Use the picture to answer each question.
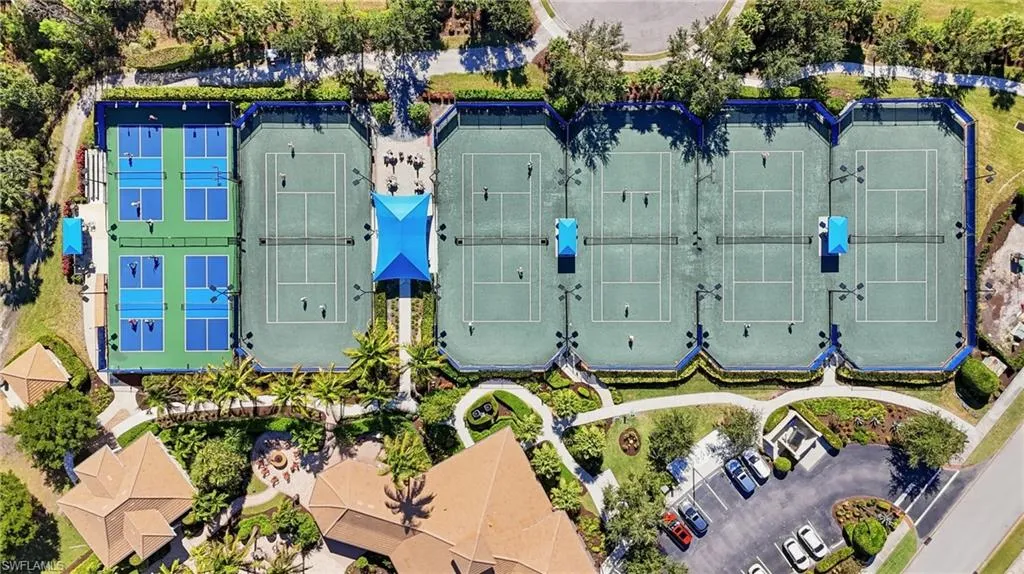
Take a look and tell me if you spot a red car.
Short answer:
Yes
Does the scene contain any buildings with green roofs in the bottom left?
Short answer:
No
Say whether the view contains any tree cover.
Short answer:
Yes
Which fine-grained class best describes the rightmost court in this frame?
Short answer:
tennis court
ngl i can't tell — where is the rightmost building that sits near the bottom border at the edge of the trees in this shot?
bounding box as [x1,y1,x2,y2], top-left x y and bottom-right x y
[308,428,599,574]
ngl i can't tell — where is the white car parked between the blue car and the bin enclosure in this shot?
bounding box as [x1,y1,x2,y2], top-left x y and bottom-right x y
[743,449,773,483]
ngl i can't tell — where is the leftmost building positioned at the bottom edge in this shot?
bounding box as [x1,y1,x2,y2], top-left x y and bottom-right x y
[56,430,198,568]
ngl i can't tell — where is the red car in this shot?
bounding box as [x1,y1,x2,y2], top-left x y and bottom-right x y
[663,512,693,546]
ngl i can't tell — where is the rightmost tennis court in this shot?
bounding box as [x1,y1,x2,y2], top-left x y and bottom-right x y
[830,105,966,367]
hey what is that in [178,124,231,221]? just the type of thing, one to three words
sports court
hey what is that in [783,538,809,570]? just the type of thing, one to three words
car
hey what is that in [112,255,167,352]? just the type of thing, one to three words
sports court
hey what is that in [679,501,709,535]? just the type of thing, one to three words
car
